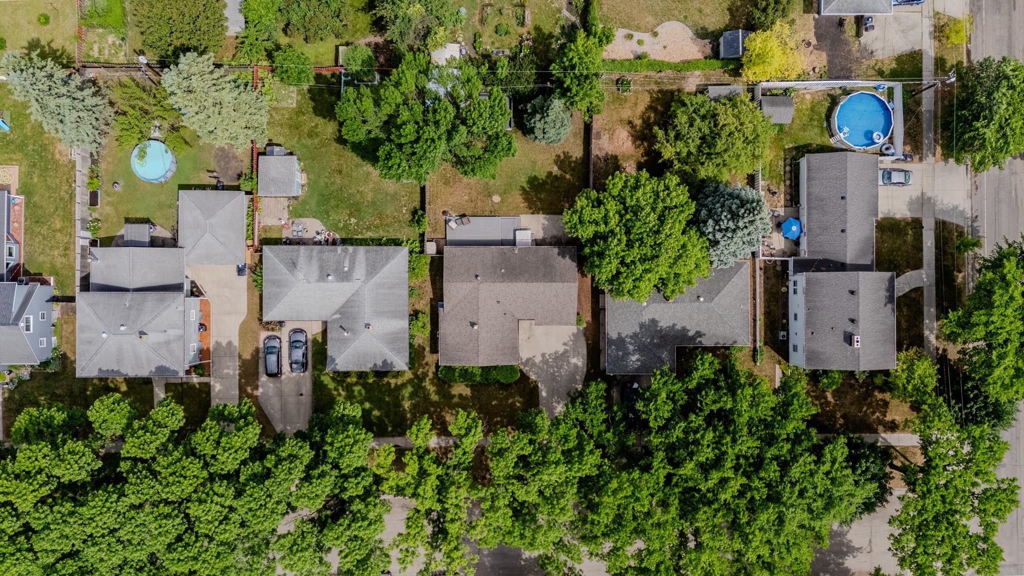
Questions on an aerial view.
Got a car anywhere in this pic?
Yes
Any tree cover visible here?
Yes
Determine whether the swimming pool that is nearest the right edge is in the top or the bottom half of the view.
top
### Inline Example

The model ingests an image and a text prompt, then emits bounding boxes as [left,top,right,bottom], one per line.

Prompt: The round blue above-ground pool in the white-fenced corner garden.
[829,91,894,152]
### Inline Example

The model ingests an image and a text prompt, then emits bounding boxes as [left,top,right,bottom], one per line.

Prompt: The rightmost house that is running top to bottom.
[786,151,896,371]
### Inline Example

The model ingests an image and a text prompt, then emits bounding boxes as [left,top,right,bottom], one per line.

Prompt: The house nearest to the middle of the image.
[437,246,578,367]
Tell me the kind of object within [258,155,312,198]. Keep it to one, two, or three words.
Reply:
shed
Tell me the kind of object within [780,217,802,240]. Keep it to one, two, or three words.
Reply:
umbrella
